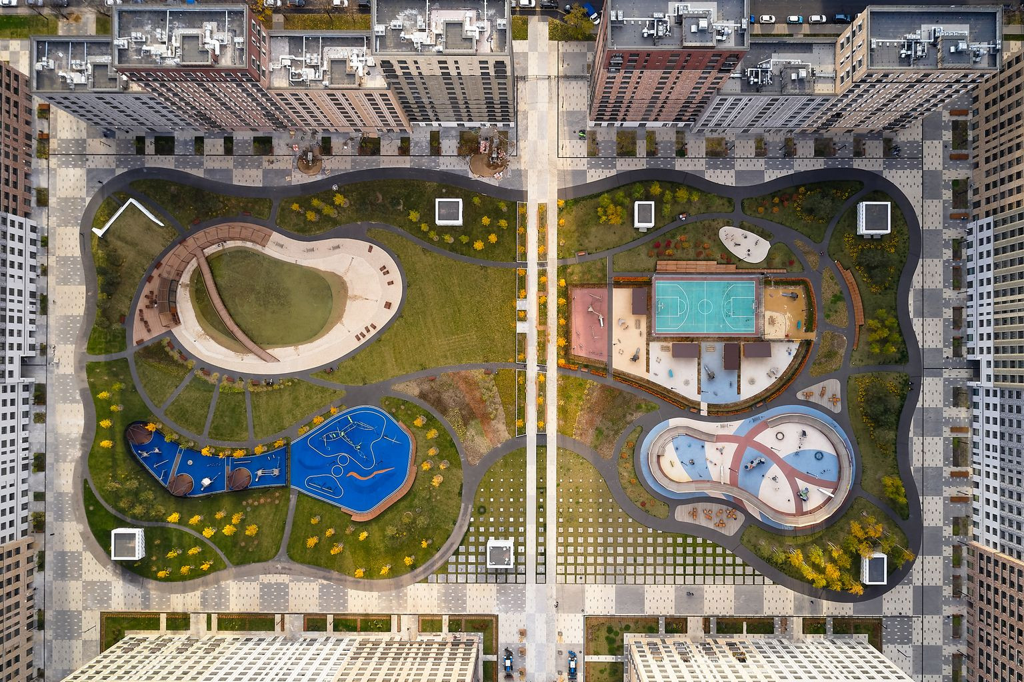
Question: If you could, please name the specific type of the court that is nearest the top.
basketball court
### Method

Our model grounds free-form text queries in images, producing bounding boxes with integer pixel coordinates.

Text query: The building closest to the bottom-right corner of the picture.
[967,543,1024,682]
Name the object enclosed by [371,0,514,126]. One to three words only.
building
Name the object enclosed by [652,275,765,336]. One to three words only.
basketball court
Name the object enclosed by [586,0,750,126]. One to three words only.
building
